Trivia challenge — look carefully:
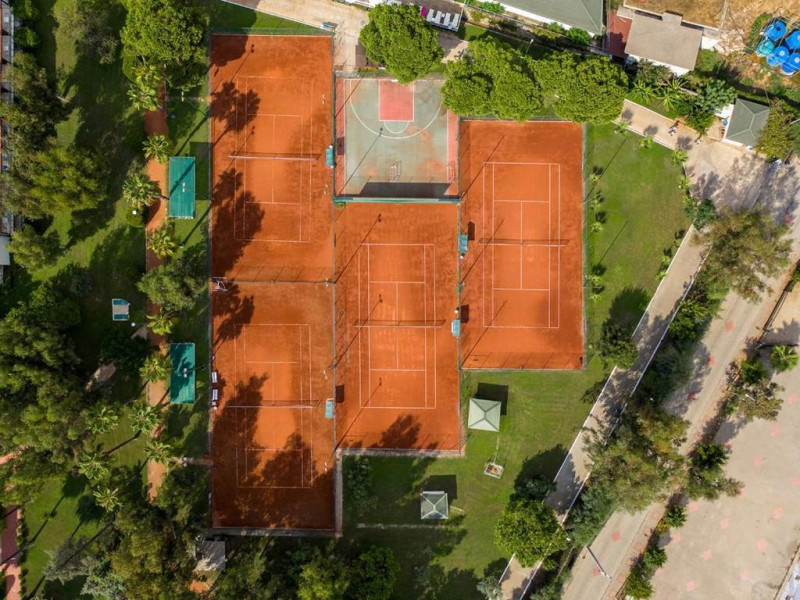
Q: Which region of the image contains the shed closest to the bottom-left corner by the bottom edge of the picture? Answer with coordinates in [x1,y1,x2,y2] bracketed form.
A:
[195,536,228,571]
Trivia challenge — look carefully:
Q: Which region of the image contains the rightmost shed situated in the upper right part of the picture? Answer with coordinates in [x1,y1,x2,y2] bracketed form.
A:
[717,98,770,154]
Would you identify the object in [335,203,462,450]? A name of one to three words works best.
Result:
tennis court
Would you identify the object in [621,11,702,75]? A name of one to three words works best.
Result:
house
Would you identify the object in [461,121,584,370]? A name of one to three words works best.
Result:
tennis court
